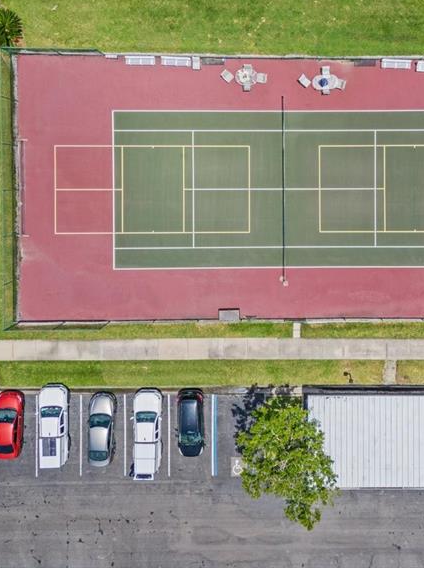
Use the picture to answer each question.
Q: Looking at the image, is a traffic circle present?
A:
No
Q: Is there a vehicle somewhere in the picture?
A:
Yes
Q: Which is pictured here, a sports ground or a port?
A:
sports ground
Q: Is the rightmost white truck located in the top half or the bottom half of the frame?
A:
bottom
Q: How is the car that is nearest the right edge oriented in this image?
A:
from top to bottom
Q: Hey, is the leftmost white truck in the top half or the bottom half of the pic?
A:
bottom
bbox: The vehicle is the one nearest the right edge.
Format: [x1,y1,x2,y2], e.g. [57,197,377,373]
[174,388,207,455]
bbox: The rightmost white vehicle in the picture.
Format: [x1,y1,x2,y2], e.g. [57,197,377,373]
[128,388,165,479]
